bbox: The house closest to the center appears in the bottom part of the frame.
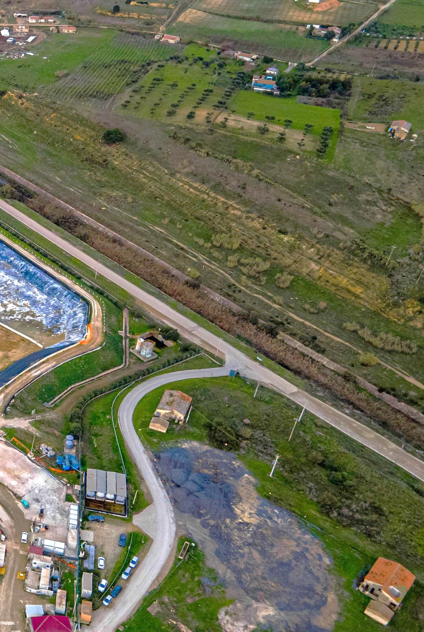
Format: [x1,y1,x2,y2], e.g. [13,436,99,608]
[155,390,192,424]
